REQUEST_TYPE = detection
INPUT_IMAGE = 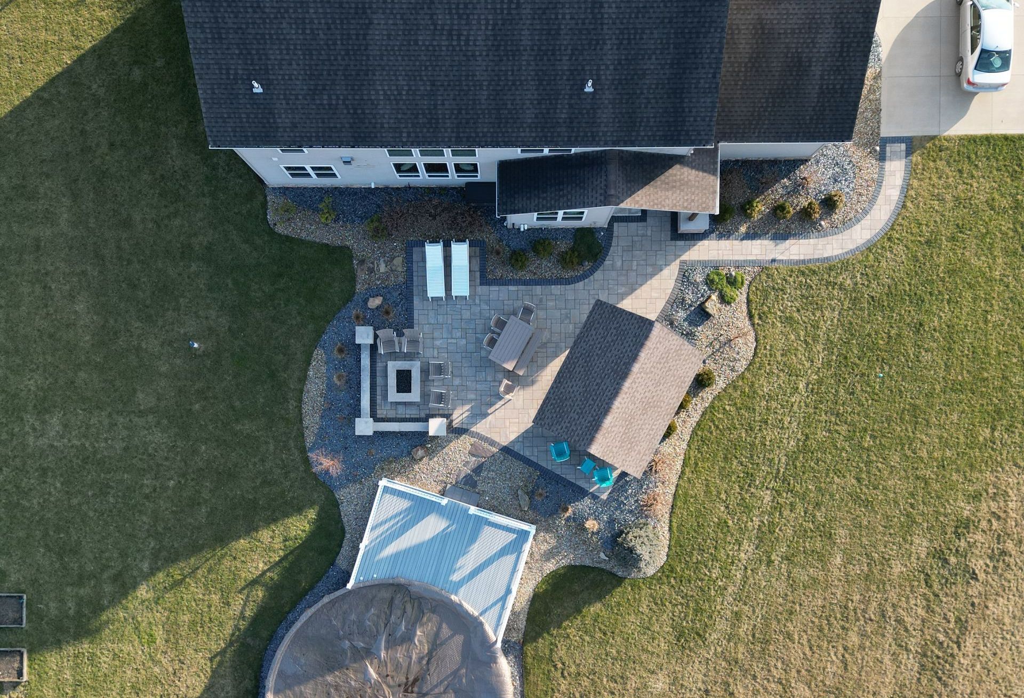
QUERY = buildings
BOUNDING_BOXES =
[183,0,881,233]
[531,299,705,480]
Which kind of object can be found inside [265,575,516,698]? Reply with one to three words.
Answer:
swimming pool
